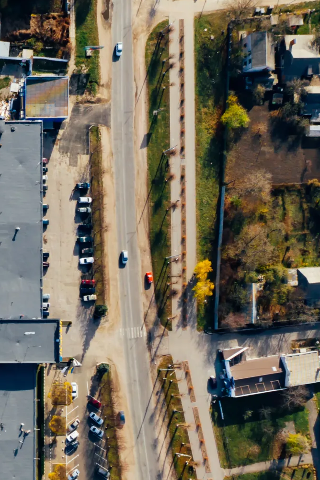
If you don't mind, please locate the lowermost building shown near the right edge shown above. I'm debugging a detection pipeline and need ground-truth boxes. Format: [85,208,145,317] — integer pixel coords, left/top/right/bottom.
[223,352,320,398]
